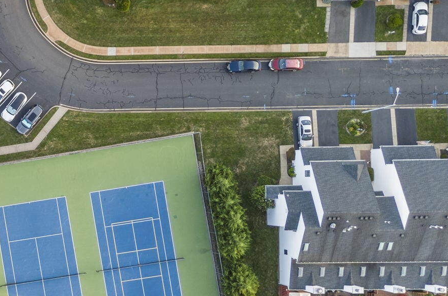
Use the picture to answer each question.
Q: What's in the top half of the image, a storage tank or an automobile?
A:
automobile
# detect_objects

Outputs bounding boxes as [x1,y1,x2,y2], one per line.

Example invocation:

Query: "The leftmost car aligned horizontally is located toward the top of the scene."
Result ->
[227,59,261,74]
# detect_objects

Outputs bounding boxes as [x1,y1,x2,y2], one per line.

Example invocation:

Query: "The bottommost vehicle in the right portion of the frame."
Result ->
[297,115,315,146]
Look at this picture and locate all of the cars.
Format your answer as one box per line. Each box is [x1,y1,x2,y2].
[411,2,430,35]
[269,57,302,72]
[0,78,15,103]
[297,115,315,146]
[1,92,27,122]
[227,59,261,74]
[16,104,43,134]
